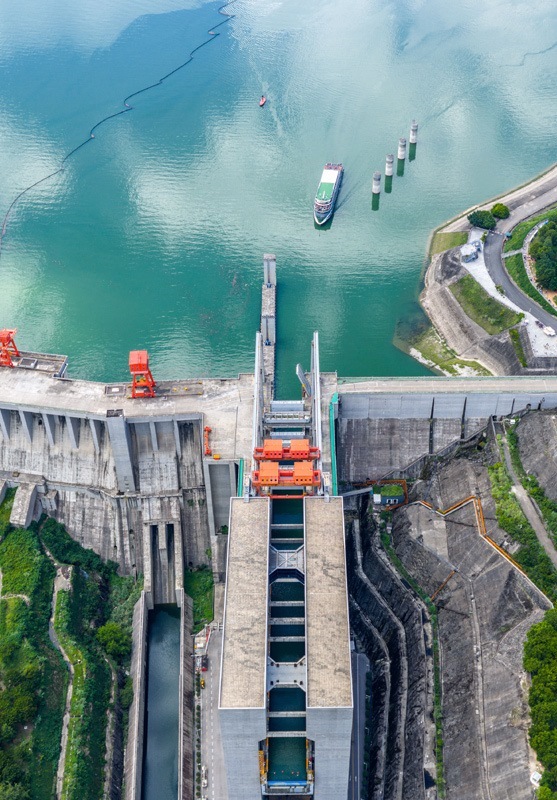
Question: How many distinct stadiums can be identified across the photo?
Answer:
0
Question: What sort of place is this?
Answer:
port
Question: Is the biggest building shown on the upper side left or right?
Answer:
right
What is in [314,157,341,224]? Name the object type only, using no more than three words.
ship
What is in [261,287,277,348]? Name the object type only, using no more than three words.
pier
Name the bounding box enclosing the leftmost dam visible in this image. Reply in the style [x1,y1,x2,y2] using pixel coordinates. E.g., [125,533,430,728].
[0,349,210,611]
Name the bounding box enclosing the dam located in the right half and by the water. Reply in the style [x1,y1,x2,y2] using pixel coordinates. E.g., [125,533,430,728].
[337,375,557,552]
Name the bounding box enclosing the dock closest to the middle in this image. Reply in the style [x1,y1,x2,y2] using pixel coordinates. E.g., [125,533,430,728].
[261,350,277,402]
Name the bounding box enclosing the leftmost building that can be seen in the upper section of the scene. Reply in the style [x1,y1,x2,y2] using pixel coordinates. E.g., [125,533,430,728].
[458,239,484,263]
